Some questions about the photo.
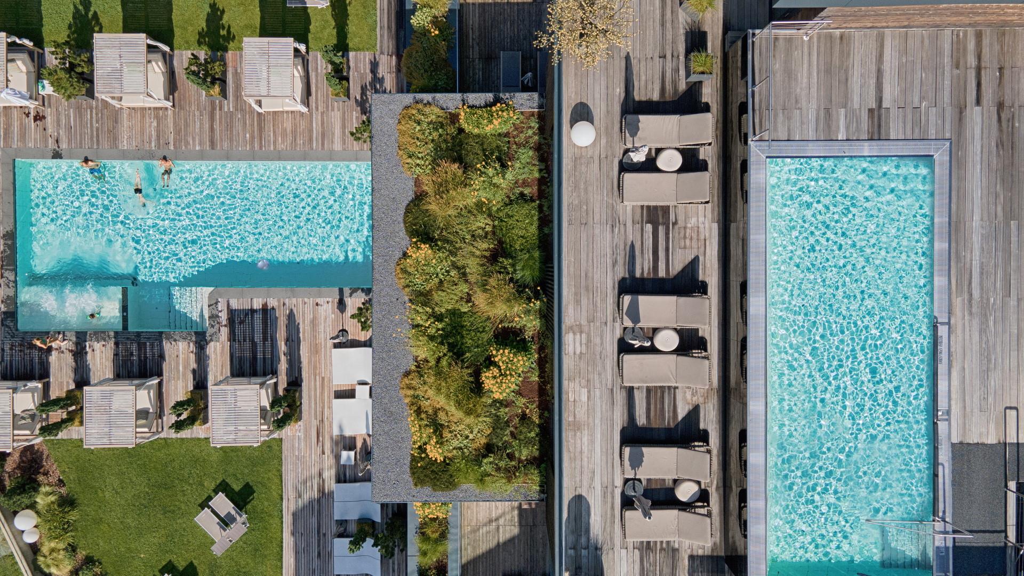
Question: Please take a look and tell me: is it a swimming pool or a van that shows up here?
swimming pool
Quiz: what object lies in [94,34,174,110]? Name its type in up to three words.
building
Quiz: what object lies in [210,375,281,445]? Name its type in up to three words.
building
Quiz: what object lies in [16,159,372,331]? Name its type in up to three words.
swimming pool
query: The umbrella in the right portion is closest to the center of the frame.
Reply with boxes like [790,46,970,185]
[624,327,652,350]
